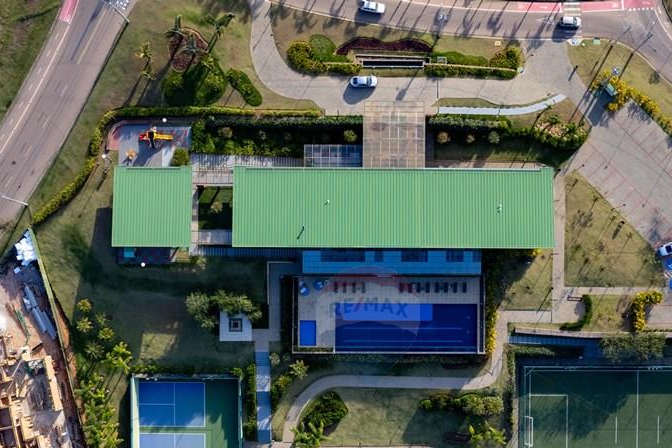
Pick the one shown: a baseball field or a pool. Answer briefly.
pool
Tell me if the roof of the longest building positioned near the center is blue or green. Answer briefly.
green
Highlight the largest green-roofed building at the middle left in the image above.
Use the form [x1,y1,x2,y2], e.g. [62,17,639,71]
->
[111,166,194,249]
